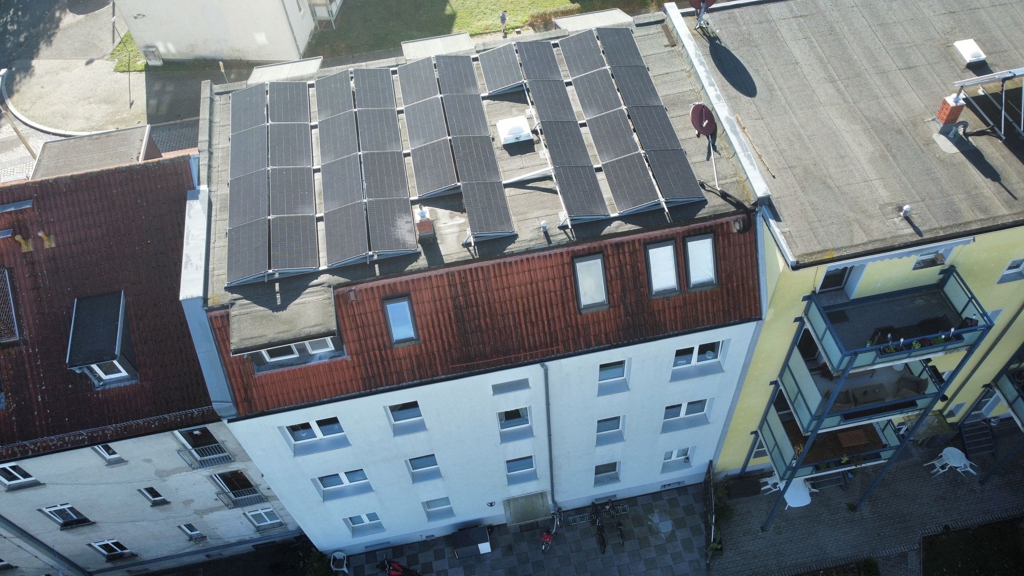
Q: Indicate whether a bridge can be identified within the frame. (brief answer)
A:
No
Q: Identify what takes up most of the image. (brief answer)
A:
buildings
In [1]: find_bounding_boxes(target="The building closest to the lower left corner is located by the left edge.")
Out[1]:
[0,121,306,576]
